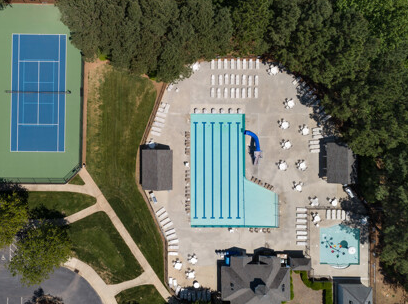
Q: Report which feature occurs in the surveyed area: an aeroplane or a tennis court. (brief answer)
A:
tennis court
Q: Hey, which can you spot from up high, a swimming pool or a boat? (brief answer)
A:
swimming pool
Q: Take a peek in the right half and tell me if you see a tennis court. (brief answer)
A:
No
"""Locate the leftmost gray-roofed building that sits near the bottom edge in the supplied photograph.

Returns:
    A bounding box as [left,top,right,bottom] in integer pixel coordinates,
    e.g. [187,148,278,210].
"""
[220,254,290,304]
